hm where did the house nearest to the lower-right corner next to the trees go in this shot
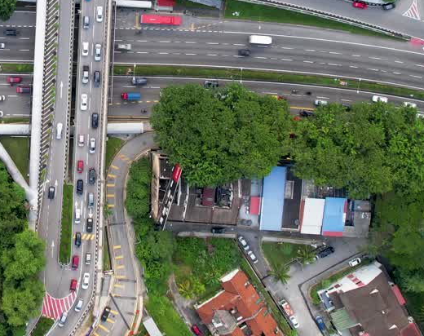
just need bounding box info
[319,262,420,336]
